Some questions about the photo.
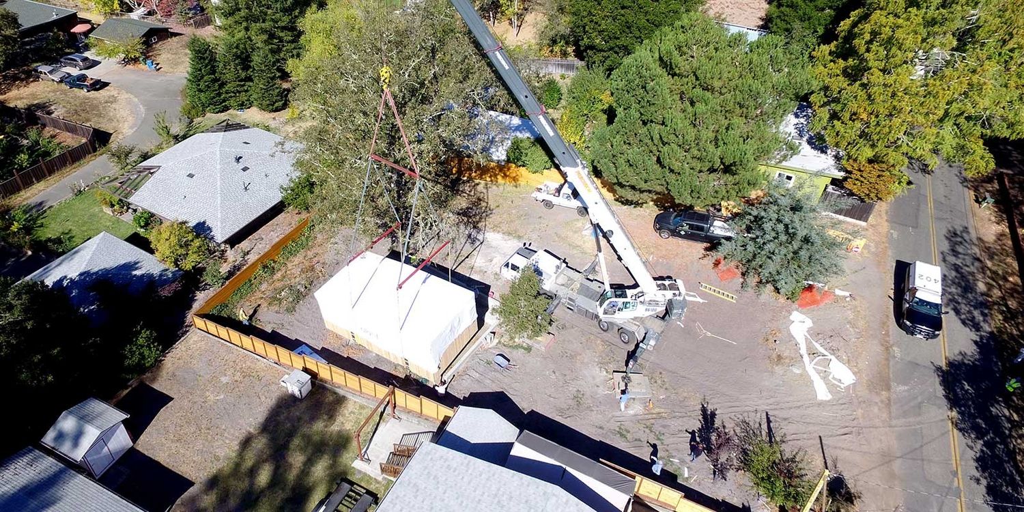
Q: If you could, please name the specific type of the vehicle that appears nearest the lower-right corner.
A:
truck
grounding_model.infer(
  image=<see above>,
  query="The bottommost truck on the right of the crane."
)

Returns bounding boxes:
[897,261,947,342]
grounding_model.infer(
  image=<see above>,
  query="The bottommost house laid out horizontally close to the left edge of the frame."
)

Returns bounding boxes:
[0,447,136,512]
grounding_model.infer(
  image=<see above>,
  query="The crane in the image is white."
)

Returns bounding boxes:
[444,0,709,382]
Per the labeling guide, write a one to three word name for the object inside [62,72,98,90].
vehicle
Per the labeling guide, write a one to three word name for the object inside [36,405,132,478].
shed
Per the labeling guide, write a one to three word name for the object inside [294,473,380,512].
trailer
